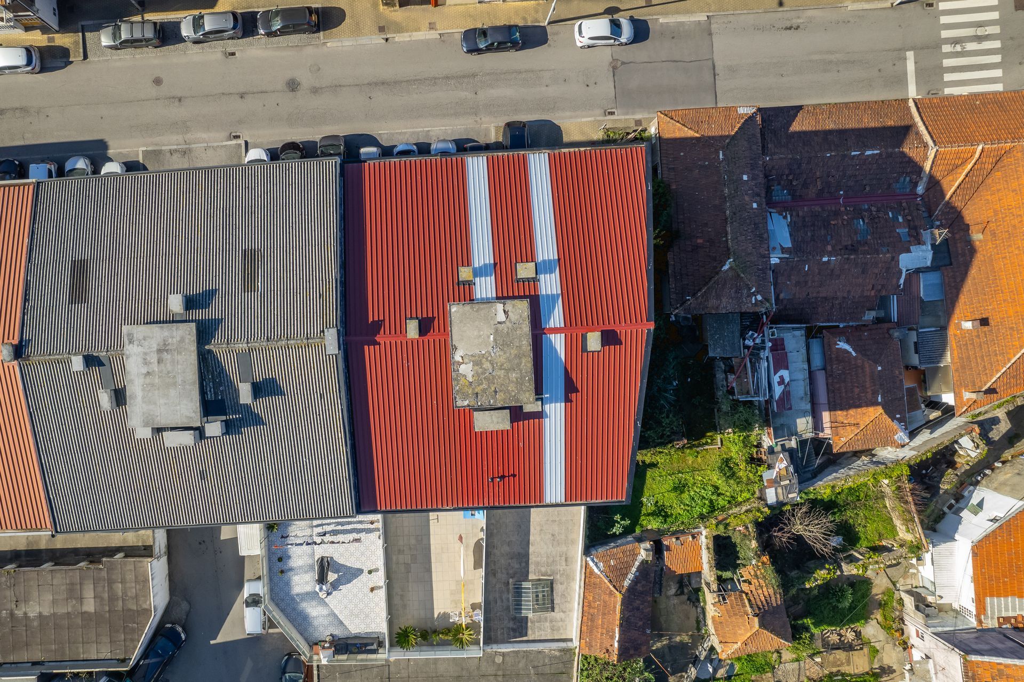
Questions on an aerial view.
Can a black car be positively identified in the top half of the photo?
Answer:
Yes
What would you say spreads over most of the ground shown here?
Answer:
buildings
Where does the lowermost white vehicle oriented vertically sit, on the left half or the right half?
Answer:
left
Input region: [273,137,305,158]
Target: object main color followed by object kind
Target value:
black car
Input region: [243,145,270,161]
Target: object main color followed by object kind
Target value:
white car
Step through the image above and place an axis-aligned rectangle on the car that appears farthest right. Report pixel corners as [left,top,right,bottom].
[575,14,635,49]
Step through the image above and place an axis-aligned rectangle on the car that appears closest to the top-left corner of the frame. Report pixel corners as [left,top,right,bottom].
[0,42,37,74]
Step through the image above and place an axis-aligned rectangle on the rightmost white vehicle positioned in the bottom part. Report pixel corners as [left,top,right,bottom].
[239,582,266,642]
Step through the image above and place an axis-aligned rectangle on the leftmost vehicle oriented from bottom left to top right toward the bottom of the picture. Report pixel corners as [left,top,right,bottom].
[120,626,178,682]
